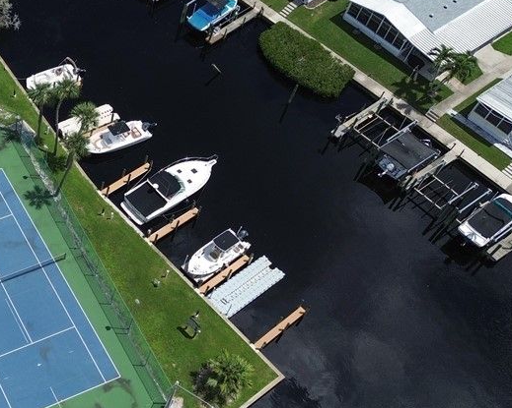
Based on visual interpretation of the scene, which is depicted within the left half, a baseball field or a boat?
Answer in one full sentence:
The one visible within the left half is a boat.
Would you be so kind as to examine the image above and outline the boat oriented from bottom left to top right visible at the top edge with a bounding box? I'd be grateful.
[185,0,238,35]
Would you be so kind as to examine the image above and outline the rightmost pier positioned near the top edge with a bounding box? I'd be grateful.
[203,2,265,50]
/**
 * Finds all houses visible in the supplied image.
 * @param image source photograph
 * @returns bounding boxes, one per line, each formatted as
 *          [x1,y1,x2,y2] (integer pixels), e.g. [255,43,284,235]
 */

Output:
[468,70,512,141]
[344,0,512,82]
